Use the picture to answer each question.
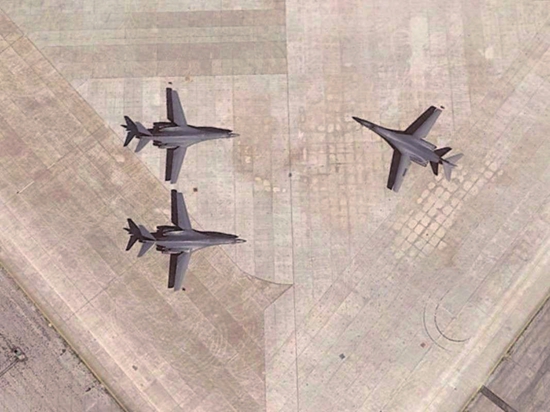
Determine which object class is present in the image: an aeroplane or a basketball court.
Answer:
aeroplane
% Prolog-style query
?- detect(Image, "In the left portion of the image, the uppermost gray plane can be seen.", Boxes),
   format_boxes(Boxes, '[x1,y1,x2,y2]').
[135,89,240,183]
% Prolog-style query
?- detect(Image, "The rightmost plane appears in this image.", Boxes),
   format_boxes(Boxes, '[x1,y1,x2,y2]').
[358,107,463,193]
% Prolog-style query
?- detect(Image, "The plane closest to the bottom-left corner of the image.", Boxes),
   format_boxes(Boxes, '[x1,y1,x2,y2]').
[140,191,246,290]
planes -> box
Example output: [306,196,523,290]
[140,191,246,290]
[135,89,240,183]
[358,107,463,193]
